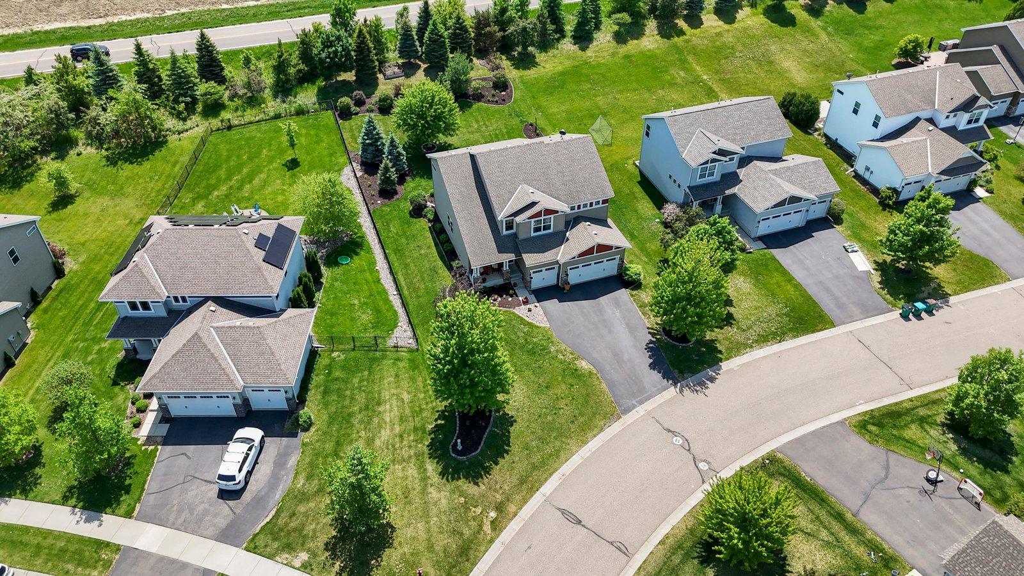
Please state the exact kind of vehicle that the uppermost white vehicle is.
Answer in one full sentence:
It turns out the uppermost white vehicle is a car.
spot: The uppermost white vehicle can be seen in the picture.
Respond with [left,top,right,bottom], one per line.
[214,427,268,491]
